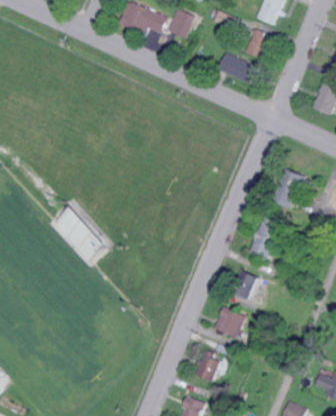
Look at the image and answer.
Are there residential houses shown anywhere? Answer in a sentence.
Yes, this view includes a residential house.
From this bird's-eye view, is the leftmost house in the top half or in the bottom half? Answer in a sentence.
The leftmost house is in the top half of the image.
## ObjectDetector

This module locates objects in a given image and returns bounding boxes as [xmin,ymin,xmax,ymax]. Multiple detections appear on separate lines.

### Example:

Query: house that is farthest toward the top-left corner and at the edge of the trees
[122,2,172,38]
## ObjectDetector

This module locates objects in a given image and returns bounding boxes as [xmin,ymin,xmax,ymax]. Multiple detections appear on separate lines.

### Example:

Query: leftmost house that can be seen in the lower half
[180,396,207,416]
